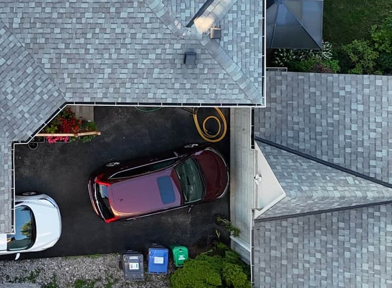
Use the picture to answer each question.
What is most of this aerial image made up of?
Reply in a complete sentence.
Most of the picture is covered by buildings.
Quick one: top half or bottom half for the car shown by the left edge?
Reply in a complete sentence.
The car shown by the left edge sits in the bottom half of the picture.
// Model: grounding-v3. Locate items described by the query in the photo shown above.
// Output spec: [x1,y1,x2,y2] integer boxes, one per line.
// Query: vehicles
[86,147,232,228]
[0,194,62,260]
